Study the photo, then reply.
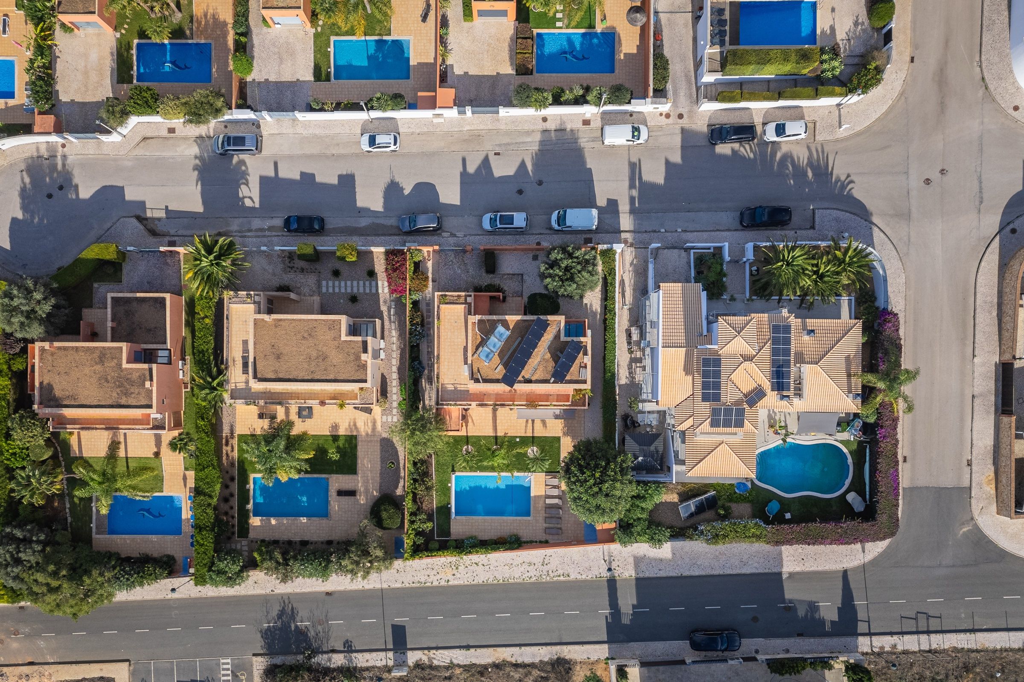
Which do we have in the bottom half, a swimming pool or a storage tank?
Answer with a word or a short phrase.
swimming pool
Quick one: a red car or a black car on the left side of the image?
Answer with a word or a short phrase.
black car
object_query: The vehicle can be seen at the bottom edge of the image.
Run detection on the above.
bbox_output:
[690,627,739,653]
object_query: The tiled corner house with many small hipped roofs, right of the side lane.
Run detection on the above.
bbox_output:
[652,283,863,483]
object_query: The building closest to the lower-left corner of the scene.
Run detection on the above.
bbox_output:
[28,293,195,431]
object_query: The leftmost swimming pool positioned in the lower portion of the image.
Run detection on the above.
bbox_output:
[93,492,185,538]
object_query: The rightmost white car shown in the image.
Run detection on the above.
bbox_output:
[764,121,806,143]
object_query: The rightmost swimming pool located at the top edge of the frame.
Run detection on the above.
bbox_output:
[726,0,820,48]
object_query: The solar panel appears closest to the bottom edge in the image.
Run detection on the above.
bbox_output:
[678,492,718,520]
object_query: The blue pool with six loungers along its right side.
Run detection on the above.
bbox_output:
[451,472,533,520]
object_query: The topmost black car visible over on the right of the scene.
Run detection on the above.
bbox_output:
[709,124,755,147]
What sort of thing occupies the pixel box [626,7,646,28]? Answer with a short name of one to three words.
umbrella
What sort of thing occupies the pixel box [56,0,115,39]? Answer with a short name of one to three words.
building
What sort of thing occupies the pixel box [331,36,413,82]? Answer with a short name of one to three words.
swimming pool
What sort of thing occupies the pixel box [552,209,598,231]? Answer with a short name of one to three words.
vehicle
